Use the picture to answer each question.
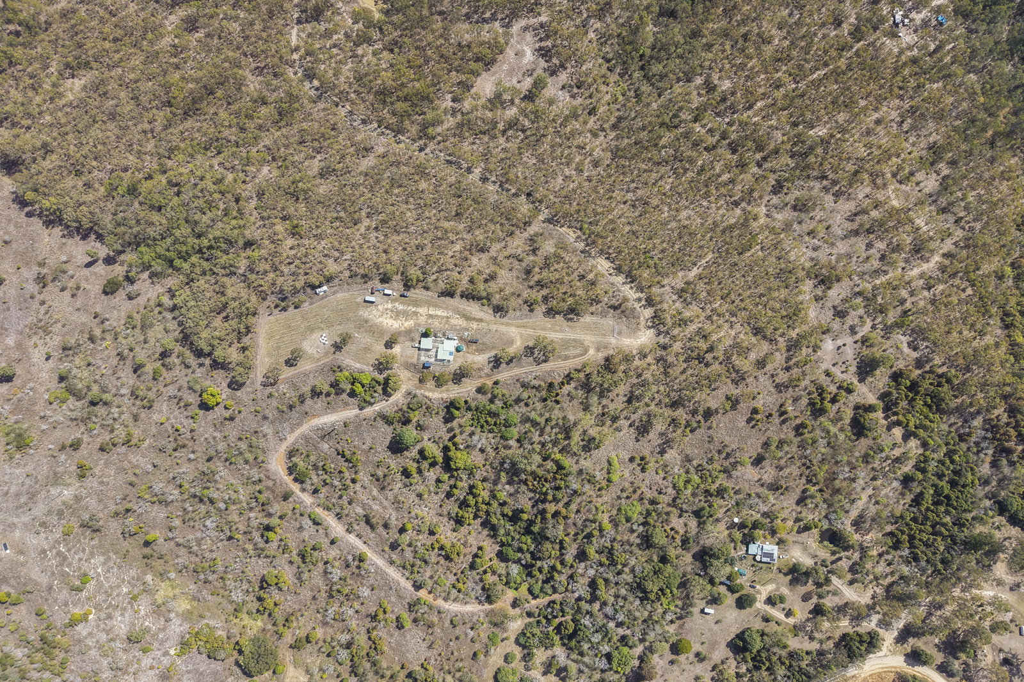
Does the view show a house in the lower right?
Yes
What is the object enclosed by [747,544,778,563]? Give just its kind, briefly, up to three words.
house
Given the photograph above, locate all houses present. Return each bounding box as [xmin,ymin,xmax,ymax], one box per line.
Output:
[747,544,778,563]
[417,340,457,366]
